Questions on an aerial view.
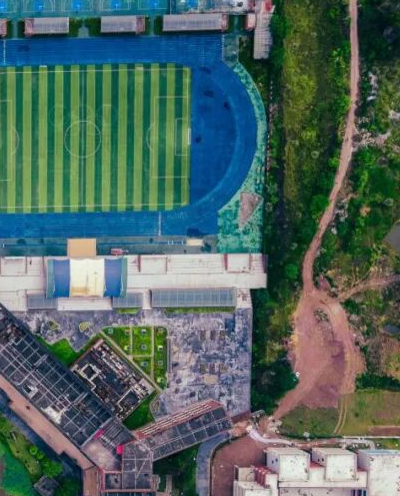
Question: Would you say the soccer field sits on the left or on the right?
left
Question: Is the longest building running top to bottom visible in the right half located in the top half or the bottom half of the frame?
top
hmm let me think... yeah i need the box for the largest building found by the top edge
[250,7,273,61]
